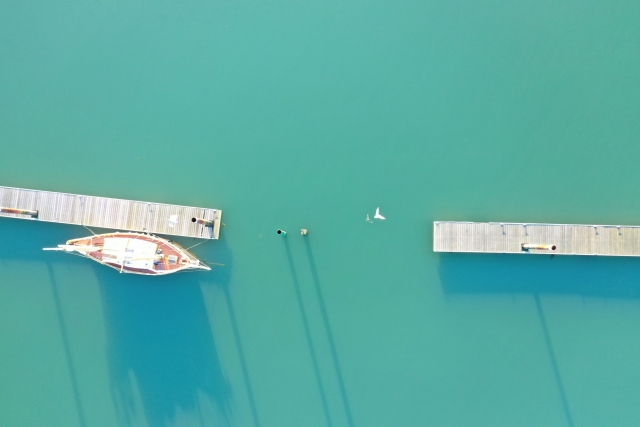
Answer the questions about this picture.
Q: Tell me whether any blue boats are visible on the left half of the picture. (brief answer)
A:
No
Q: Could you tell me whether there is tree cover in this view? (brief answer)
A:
No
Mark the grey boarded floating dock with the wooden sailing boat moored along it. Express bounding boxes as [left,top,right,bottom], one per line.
[0,187,222,239]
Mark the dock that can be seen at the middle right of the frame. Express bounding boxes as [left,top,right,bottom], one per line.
[433,221,640,256]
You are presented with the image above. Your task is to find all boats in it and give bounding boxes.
[42,232,209,276]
